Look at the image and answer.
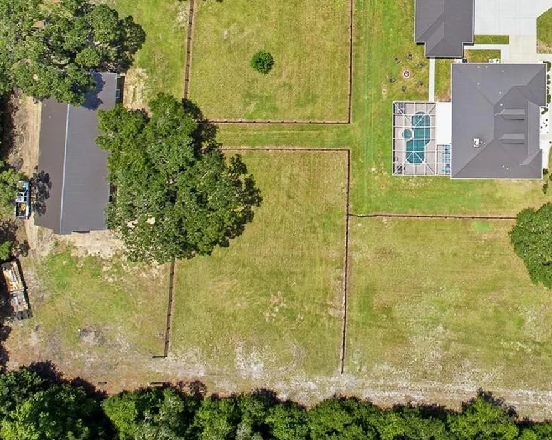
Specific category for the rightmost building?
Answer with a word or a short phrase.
residential house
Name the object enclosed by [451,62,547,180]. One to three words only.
house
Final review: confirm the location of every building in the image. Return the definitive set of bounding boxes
[451,62,547,180]
[34,69,127,235]
[415,0,474,57]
